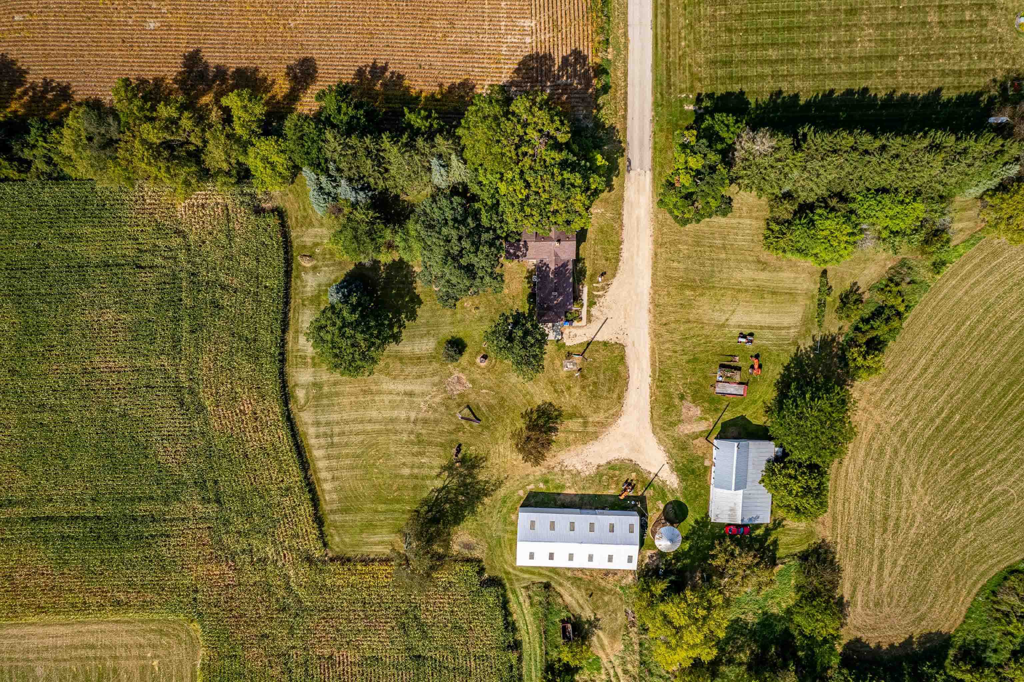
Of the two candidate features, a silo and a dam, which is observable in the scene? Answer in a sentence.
Looking from above, you can make out a silo.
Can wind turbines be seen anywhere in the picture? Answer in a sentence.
No, the frame has no wind turbine in it.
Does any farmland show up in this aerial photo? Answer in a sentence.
Yes, farmland can be seen from above here.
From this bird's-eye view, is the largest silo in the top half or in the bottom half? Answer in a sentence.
The bottom half of the photo is where the largest silo is.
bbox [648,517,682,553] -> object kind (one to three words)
silo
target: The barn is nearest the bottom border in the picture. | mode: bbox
[516,508,640,570]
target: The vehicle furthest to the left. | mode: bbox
[618,474,636,503]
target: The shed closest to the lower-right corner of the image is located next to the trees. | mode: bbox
[707,438,774,524]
